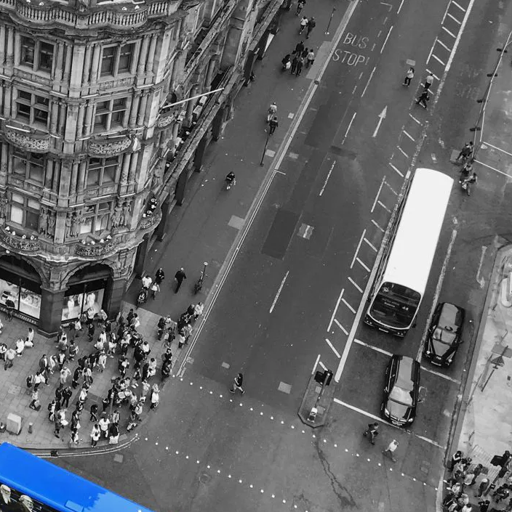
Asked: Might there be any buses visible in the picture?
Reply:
Yes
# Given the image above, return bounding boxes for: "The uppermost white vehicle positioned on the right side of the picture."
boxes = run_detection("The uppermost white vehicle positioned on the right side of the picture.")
[363,168,458,337]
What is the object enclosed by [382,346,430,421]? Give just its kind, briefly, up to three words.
car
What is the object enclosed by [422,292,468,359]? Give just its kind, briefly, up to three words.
car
